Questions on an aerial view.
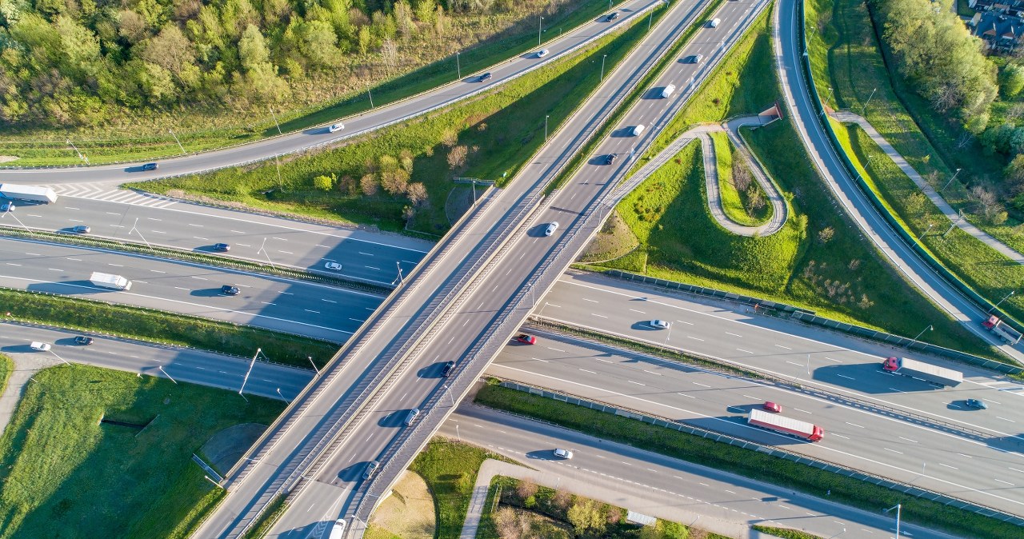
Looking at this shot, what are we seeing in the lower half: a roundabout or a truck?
truck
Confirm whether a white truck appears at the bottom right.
Yes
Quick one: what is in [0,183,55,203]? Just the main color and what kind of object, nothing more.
white vehicle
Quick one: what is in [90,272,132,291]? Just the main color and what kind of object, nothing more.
white vehicle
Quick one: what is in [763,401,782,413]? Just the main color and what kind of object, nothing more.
red vehicle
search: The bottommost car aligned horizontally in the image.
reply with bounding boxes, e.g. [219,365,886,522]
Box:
[553,448,574,460]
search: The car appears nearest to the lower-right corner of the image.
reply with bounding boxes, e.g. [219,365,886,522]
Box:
[966,398,986,410]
